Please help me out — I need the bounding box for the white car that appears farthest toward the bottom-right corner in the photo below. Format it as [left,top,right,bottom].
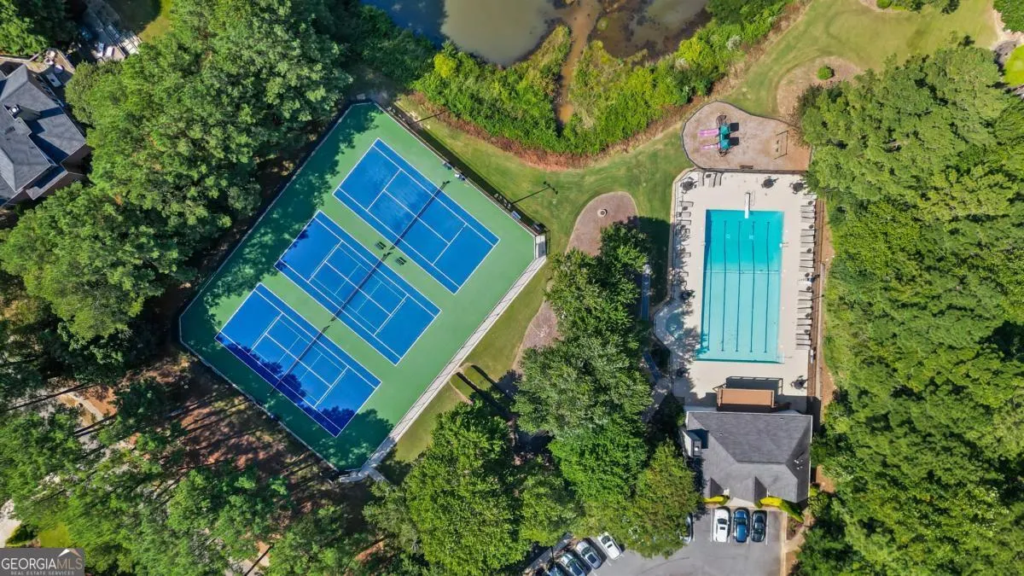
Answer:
[714,510,731,543]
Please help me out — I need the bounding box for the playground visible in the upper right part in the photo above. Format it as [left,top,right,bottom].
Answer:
[682,99,809,170]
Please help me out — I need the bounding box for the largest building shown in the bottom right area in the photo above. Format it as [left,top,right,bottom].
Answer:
[676,409,813,503]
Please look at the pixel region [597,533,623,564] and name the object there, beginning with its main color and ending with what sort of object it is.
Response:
white car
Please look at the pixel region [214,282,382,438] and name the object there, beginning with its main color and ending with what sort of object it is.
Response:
blue tennis court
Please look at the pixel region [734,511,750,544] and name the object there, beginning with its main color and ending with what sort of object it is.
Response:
blue car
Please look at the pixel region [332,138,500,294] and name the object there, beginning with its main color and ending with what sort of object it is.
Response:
blue tennis court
